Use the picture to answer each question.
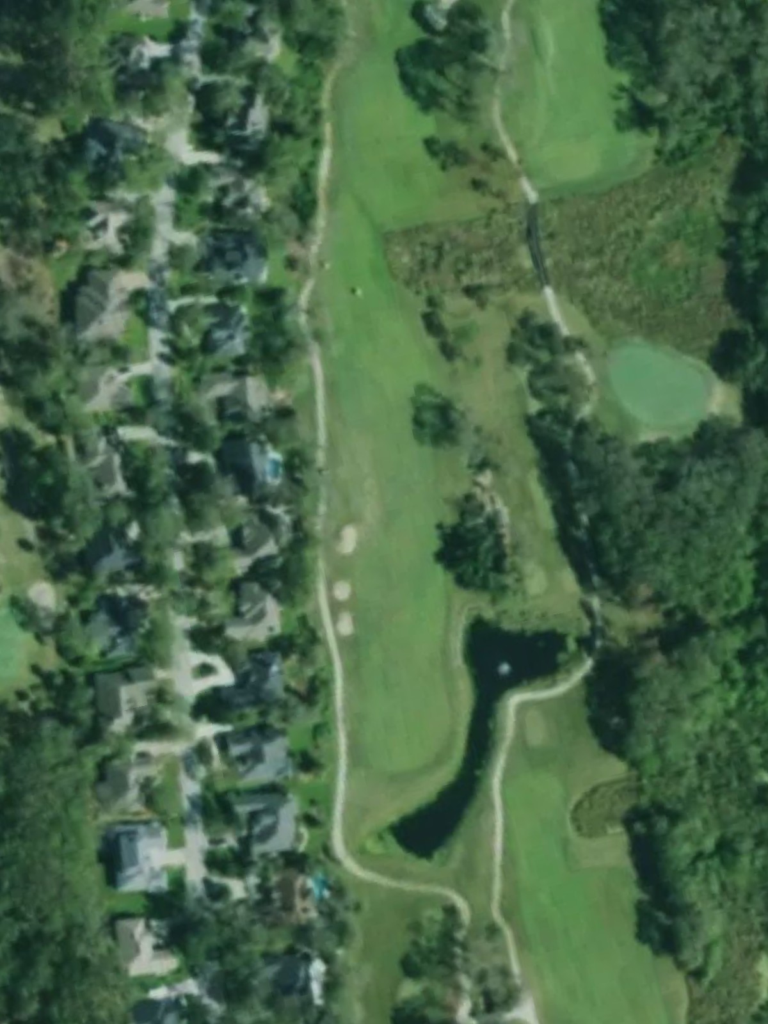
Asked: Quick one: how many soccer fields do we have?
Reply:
zero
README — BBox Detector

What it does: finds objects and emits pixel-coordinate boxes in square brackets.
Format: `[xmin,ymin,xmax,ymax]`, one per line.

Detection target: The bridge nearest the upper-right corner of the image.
[525,199,553,293]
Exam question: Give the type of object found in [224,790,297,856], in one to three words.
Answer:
house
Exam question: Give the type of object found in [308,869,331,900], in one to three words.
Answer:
swimming pool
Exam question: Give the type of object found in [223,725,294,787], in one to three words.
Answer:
house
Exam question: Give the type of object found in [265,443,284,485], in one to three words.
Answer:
swimming pool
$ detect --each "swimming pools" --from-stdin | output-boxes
[308,869,331,900]
[265,443,284,485]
